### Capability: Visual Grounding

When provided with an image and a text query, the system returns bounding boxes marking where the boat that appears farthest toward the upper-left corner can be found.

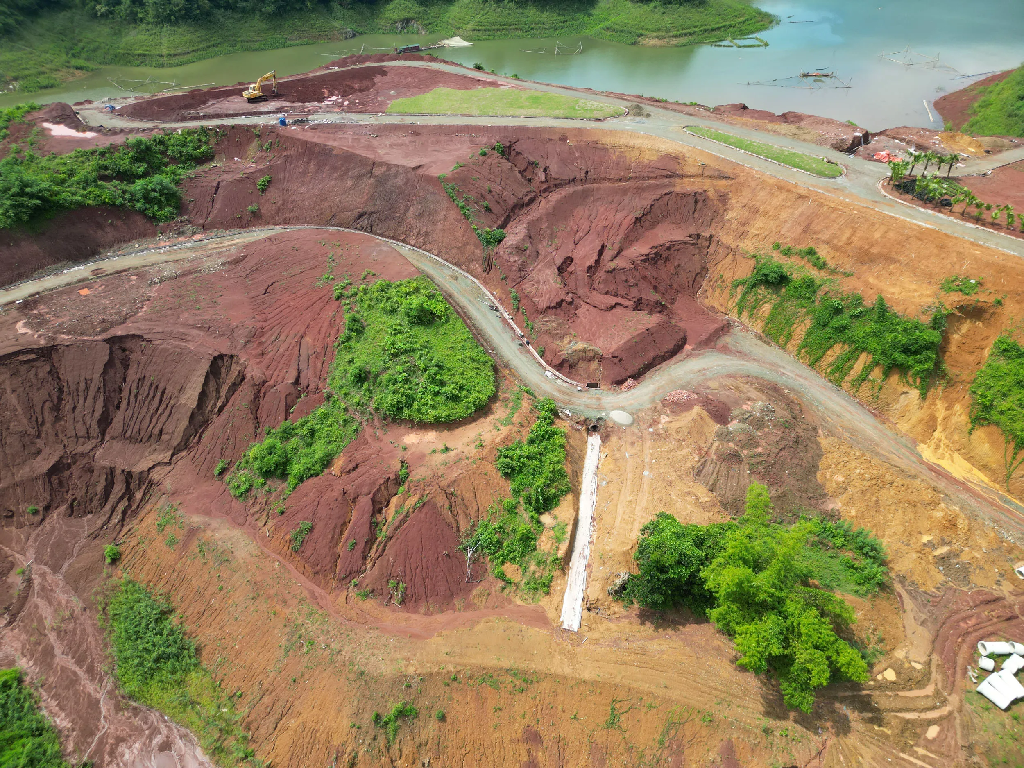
[395,40,425,52]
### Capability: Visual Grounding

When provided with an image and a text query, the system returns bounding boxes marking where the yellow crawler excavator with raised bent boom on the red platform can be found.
[240,64,283,105]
